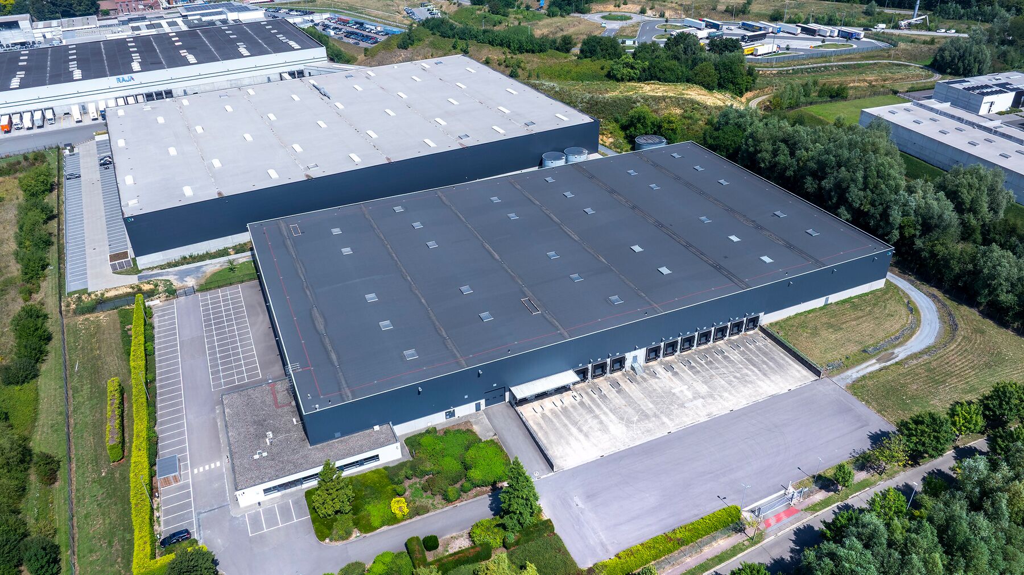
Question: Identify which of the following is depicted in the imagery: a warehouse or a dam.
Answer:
warehouse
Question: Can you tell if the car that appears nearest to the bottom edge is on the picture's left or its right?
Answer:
left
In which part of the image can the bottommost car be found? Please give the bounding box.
[159,525,191,545]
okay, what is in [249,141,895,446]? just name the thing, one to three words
warehouse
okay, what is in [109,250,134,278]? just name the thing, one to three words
shed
